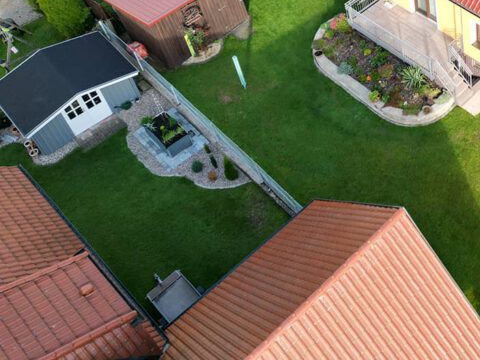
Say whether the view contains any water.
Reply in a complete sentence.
No, the scene doesn't show any water.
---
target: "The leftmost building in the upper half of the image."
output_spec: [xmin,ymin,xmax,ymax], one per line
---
[0,32,148,170]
